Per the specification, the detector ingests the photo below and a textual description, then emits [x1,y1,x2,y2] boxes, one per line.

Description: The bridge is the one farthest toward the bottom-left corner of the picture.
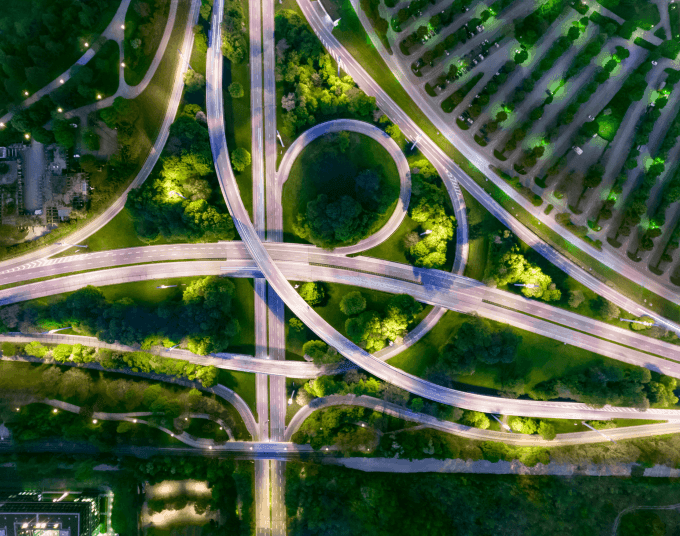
[246,440,296,460]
